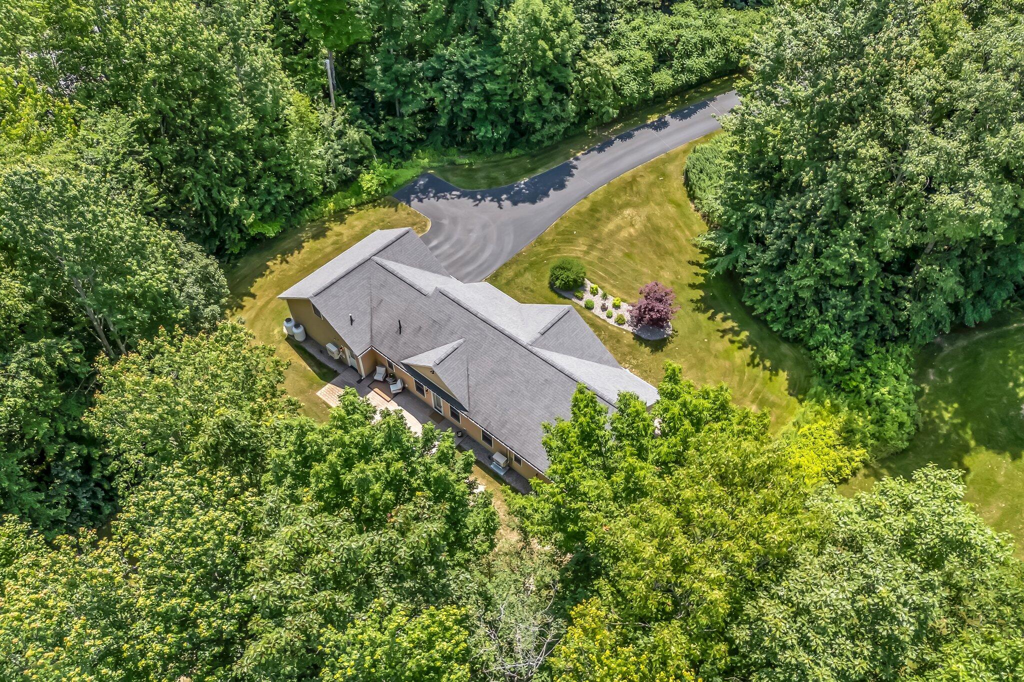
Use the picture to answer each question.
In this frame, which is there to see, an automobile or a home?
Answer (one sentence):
Looking from above, you can make out a home.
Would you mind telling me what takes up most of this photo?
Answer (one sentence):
The scene is dominated by trees.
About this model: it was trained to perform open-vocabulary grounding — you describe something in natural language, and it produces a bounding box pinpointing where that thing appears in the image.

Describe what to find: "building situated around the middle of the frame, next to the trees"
[279,227,661,493]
